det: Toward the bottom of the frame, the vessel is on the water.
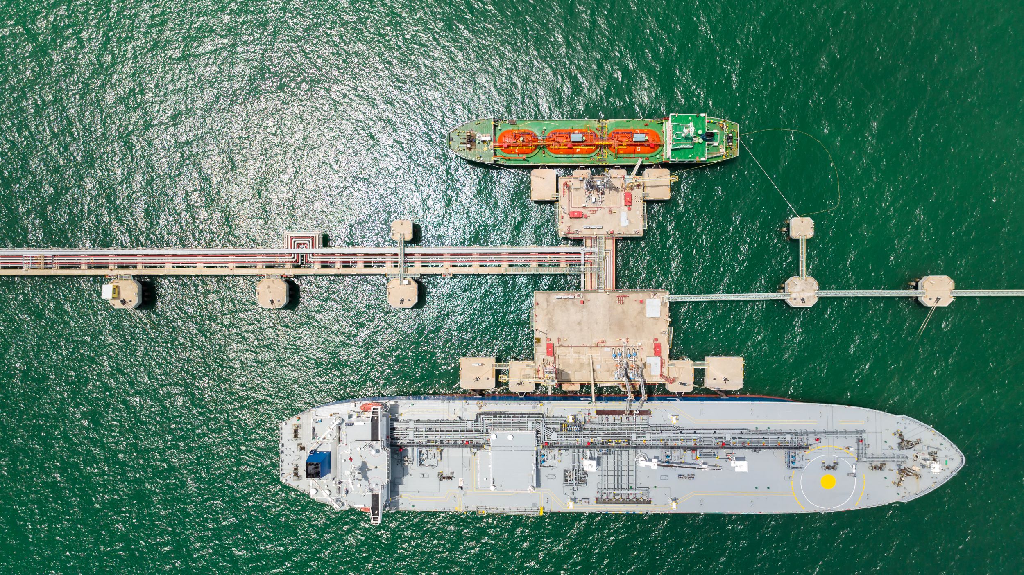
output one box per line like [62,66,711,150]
[280,395,966,526]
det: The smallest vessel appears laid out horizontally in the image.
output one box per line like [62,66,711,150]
[446,112,740,167]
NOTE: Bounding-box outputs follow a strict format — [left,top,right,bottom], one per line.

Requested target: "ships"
[280,395,966,526]
[446,112,740,167]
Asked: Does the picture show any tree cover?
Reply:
No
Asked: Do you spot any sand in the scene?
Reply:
No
